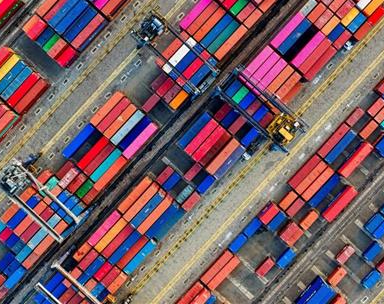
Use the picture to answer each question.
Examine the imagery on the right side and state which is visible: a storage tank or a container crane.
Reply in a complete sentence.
The one visible on the right side is a container crane.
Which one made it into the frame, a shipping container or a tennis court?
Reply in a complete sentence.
The one in the frame is a shipping container.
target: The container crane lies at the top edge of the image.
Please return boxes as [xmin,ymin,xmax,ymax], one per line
[127,6,221,101]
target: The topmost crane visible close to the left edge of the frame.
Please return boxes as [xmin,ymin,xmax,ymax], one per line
[0,147,101,242]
